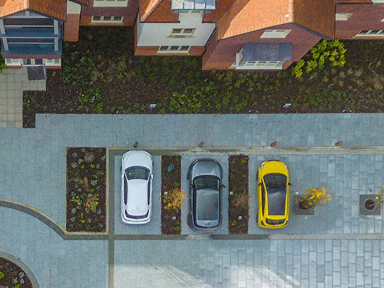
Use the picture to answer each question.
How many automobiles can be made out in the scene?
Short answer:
3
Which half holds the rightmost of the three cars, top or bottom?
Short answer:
bottom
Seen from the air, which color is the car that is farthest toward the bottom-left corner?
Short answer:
white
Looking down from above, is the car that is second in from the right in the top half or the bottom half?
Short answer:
bottom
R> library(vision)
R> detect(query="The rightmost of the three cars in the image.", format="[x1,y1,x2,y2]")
[254,161,294,228]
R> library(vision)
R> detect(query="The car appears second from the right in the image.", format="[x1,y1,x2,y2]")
[185,159,226,232]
